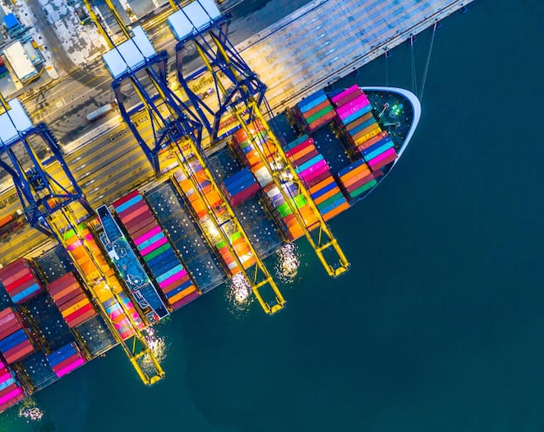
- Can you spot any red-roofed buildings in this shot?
No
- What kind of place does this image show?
port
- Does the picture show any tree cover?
No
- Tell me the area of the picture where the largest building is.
top left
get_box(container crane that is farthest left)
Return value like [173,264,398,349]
[0,93,164,385]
